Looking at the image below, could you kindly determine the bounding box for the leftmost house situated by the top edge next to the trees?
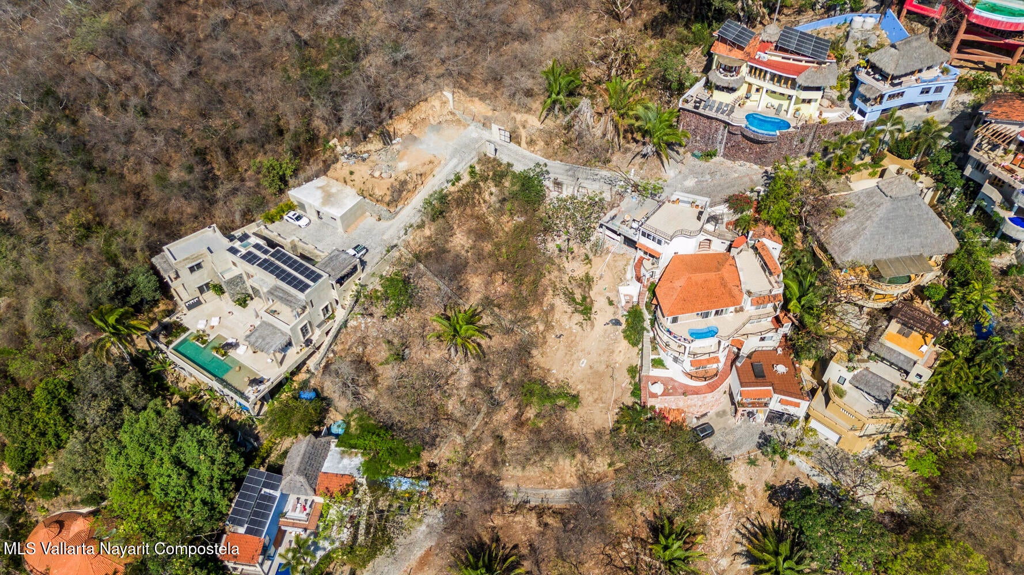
[705,19,836,118]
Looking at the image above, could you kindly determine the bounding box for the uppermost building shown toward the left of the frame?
[286,175,365,235]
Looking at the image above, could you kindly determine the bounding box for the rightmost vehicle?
[690,413,720,443]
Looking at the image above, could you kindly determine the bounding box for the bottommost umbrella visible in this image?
[246,371,260,386]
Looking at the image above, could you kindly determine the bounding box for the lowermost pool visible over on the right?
[690,326,718,339]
